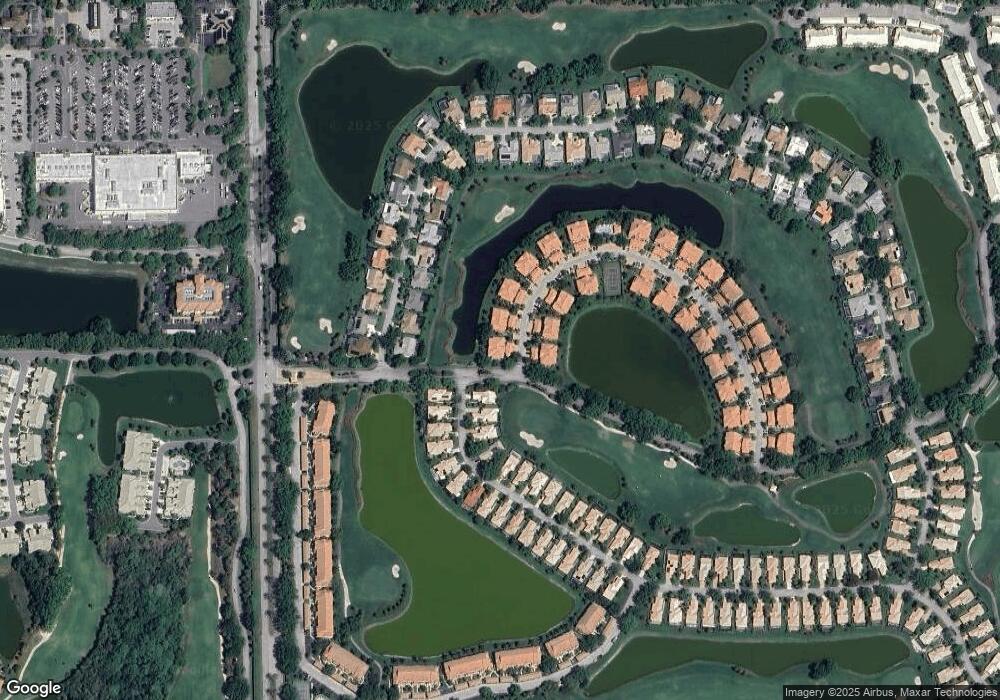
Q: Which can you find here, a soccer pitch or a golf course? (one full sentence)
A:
This aerial view contains a golf course.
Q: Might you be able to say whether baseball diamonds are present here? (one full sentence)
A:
No, there's no baseball diamond here.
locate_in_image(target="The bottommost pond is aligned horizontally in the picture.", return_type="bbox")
[590,635,909,695]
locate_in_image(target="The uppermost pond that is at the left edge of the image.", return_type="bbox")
[0,266,139,336]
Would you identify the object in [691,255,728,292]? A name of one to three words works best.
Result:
house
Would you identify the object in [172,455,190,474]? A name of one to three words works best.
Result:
swimming pool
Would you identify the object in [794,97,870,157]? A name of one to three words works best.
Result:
pond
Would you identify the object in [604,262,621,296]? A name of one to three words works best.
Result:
tennis court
